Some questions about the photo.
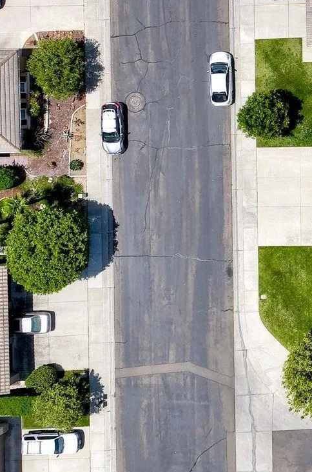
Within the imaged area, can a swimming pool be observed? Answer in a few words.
No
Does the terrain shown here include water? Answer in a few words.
No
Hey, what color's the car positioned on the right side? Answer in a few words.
white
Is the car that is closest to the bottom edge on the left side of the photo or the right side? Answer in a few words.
left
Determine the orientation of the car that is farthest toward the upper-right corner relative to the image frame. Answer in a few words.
vertically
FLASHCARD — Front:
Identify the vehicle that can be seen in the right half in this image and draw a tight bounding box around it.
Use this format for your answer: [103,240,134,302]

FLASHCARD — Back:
[208,51,235,106]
